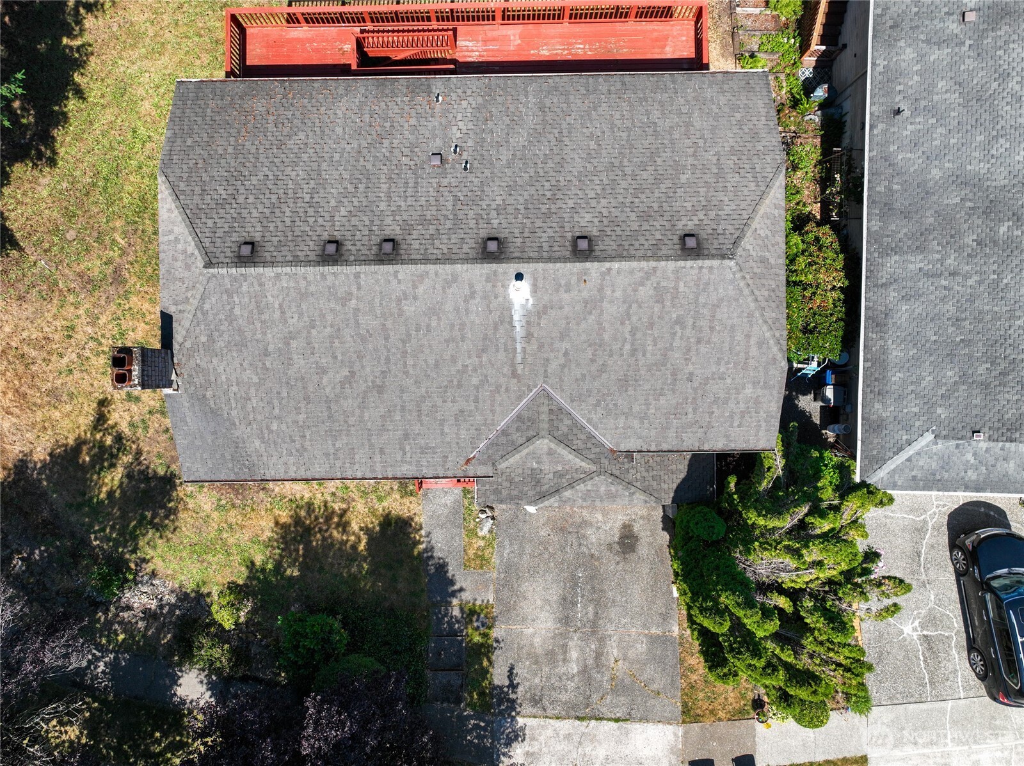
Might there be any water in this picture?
No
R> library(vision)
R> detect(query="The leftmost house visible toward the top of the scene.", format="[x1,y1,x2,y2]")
[111,65,790,511]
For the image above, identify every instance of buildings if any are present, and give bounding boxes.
[111,65,790,511]
[836,0,1024,499]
